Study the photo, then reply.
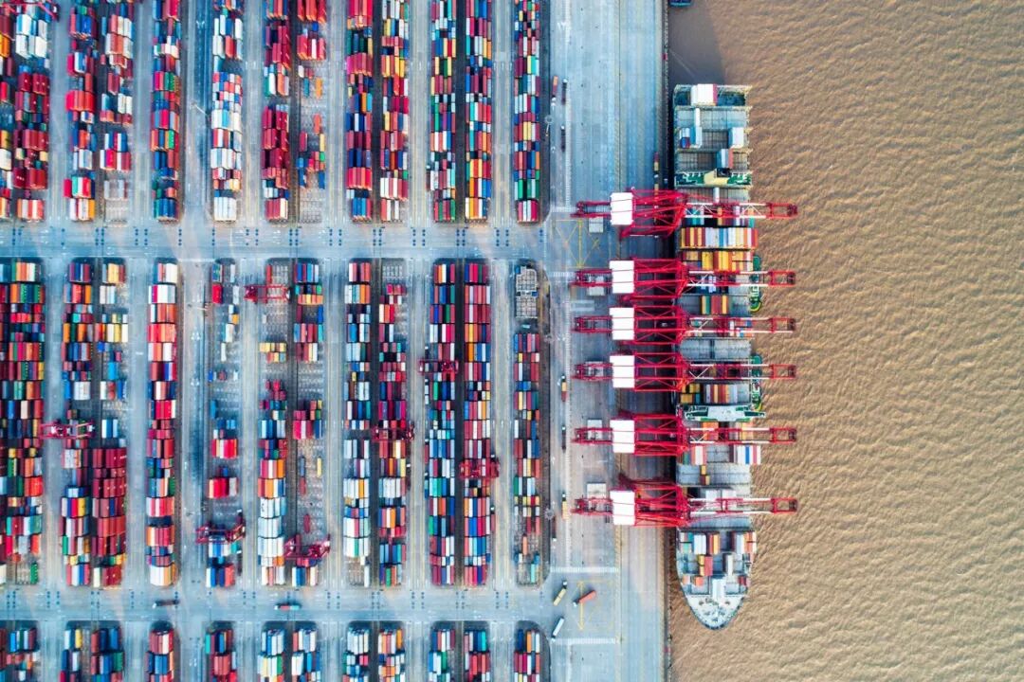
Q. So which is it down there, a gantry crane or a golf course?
gantry crane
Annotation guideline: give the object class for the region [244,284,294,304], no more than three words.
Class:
container crane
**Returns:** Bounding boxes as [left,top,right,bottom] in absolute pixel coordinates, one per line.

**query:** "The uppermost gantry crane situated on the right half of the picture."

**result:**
[568,190,794,242]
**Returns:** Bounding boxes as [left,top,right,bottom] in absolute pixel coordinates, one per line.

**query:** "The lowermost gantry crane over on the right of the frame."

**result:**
[569,475,797,526]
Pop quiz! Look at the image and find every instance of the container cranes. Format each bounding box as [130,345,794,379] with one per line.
[459,454,501,475]
[569,409,796,454]
[244,284,294,304]
[418,359,461,378]
[285,536,332,560]
[569,305,795,349]
[568,190,794,242]
[568,258,795,305]
[372,421,417,441]
[569,475,797,526]
[569,350,796,393]
[197,518,248,541]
